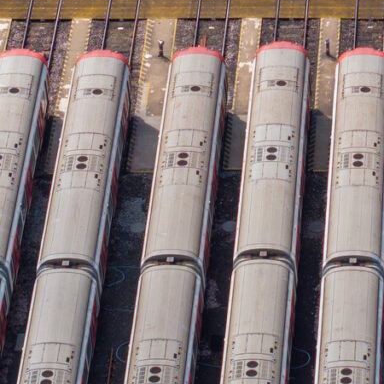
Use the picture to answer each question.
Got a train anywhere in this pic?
Yes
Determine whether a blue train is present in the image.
No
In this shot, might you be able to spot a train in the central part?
Yes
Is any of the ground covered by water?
No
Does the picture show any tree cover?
No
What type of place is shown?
parking lot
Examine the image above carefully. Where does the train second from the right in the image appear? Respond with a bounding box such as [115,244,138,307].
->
[219,43,313,384]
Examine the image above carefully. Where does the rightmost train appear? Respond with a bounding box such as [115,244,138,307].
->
[314,49,384,384]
